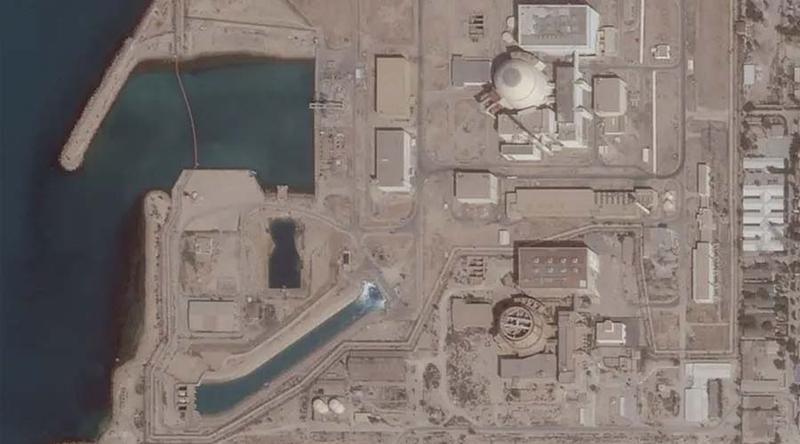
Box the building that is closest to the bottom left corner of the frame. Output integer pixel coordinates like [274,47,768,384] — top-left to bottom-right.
[177,384,189,417]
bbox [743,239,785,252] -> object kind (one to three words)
shed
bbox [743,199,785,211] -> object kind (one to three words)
shed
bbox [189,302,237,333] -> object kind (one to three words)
building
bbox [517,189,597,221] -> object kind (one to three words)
building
